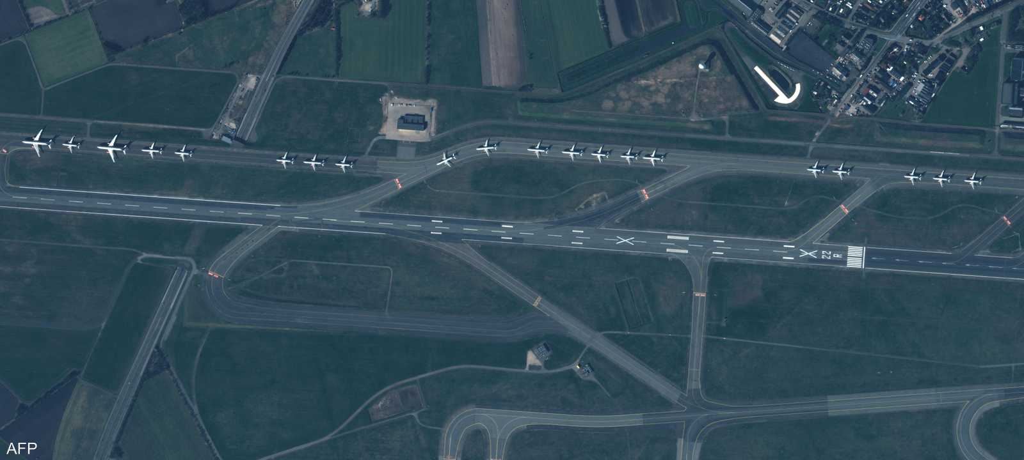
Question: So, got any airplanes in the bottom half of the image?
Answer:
No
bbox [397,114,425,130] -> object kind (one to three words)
building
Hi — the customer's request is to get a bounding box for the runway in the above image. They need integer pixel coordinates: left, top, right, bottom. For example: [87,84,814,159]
[0,186,1024,279]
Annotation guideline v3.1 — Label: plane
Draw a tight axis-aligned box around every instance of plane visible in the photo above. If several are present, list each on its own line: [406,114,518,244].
[335,157,353,173]
[304,155,323,171]
[562,145,582,160]
[592,147,609,163]
[277,153,294,169]
[142,143,162,159]
[807,162,824,177]
[964,174,981,190]
[833,164,850,180]
[62,138,80,153]
[904,169,921,185]
[621,150,638,164]
[528,143,548,158]
[643,150,663,167]
[175,145,192,161]
[933,171,950,188]
[437,153,456,168]
[98,135,126,163]
[477,140,496,156]
[22,130,51,157]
